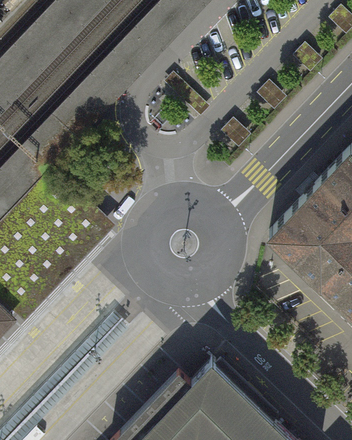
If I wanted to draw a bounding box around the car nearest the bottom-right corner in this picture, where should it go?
[280,294,304,308]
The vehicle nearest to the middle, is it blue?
No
